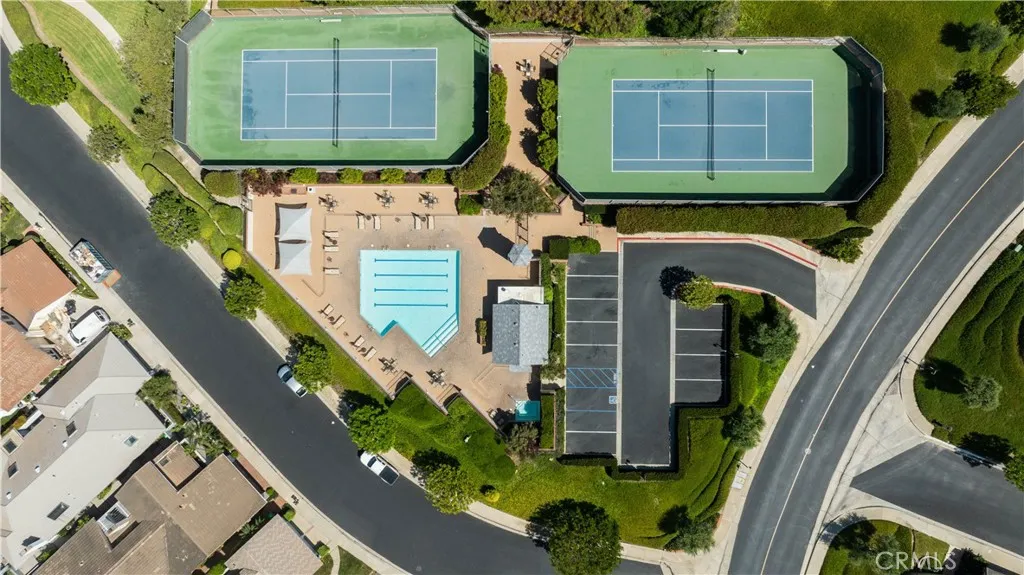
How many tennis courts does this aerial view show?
2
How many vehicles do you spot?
three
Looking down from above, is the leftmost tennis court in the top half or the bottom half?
top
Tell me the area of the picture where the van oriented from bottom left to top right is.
left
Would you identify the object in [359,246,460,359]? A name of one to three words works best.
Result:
swimming pool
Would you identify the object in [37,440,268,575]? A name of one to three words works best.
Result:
house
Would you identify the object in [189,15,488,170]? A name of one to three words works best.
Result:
tennis court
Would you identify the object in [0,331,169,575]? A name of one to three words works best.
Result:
house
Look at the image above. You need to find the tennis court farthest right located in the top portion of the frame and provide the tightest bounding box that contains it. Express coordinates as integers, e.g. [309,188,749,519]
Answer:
[556,46,866,204]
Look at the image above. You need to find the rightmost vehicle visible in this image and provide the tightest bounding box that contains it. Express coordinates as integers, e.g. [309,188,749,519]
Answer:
[359,452,401,486]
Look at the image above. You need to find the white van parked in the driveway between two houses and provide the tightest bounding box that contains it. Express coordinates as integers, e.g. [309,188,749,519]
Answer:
[70,311,110,344]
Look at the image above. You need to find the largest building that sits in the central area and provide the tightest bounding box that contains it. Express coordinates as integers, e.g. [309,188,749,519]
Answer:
[493,286,548,373]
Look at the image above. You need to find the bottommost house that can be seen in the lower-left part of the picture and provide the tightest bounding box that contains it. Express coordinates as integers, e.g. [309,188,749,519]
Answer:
[225,514,323,575]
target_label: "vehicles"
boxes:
[70,311,110,344]
[359,452,401,486]
[276,364,307,399]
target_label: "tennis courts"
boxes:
[556,46,866,204]
[189,15,488,170]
